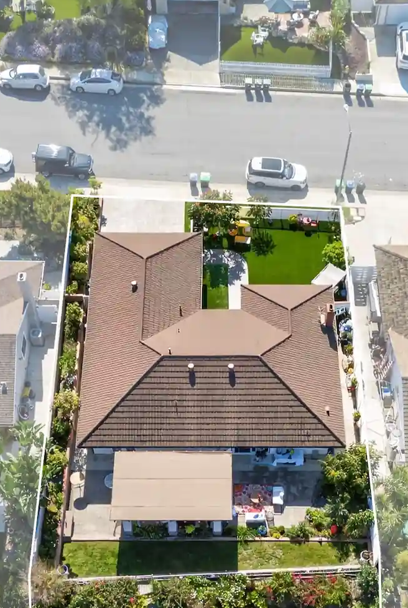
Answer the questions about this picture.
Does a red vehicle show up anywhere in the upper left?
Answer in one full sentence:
No, I can find no red vehicle in the upper left.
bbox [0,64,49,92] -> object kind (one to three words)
car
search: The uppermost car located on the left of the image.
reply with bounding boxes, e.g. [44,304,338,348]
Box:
[145,12,170,49]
